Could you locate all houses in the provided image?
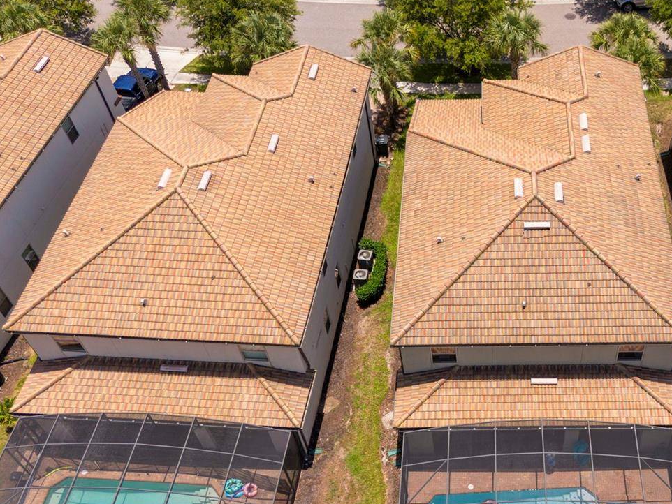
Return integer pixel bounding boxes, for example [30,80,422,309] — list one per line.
[0,44,380,446]
[386,44,672,447]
